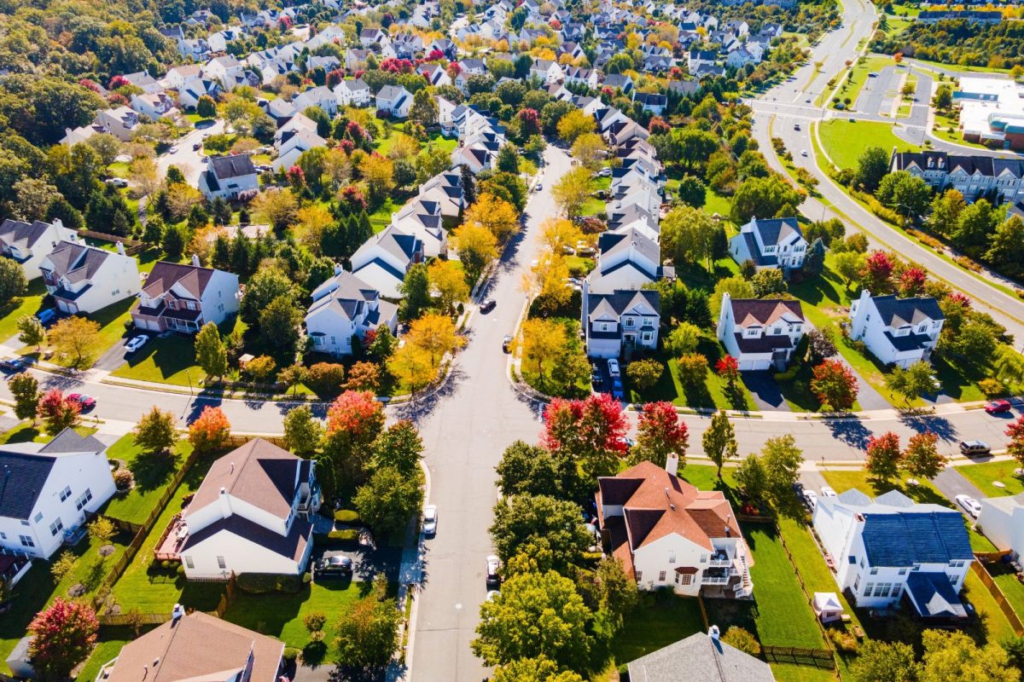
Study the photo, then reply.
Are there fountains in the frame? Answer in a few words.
No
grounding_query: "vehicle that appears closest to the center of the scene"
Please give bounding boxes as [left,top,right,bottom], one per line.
[501,336,513,351]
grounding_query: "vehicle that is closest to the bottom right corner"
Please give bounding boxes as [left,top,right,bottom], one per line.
[954,493,984,519]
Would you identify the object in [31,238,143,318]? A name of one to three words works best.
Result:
house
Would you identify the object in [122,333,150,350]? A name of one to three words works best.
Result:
car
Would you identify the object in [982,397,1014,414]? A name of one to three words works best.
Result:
car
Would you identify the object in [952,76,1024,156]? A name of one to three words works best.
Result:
building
